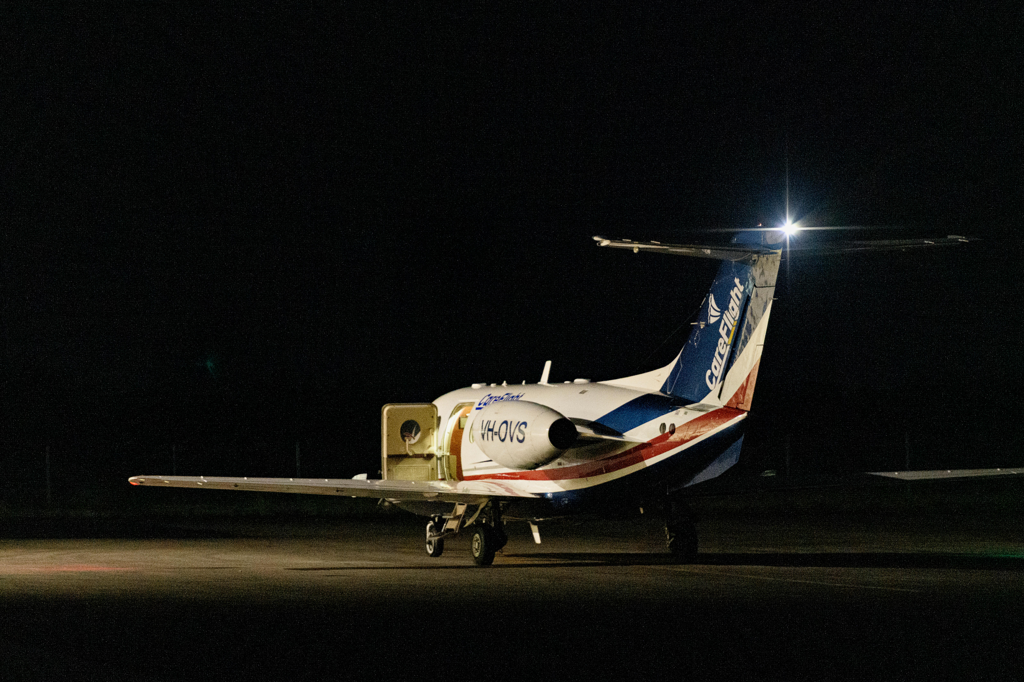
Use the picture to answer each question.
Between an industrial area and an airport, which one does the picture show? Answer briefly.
airport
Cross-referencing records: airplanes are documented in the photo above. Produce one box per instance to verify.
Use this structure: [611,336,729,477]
[129,223,1024,565]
